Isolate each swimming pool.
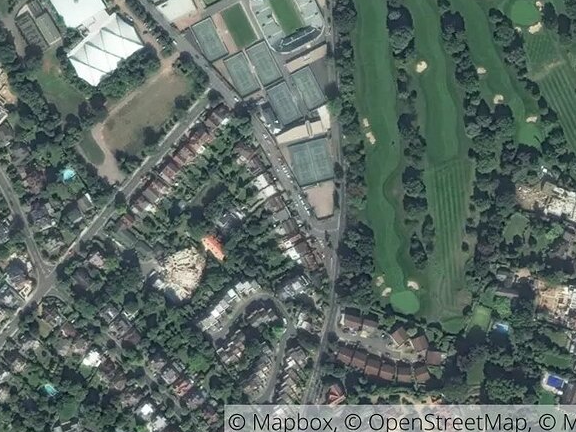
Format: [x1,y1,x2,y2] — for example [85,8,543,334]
[546,374,564,390]
[494,321,510,333]
[61,168,76,180]
[44,383,56,395]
